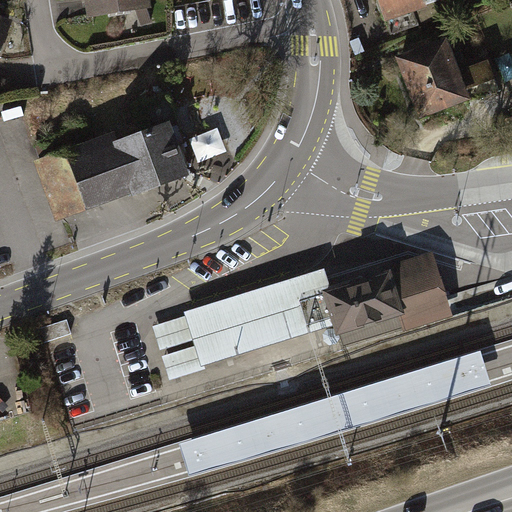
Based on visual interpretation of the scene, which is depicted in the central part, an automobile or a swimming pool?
automobile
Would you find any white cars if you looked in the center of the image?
Yes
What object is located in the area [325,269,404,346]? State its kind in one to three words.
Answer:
building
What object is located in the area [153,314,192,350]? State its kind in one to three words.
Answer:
shed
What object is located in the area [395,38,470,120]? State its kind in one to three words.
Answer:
house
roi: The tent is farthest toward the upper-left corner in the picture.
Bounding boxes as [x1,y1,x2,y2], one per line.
[192,128,226,162]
